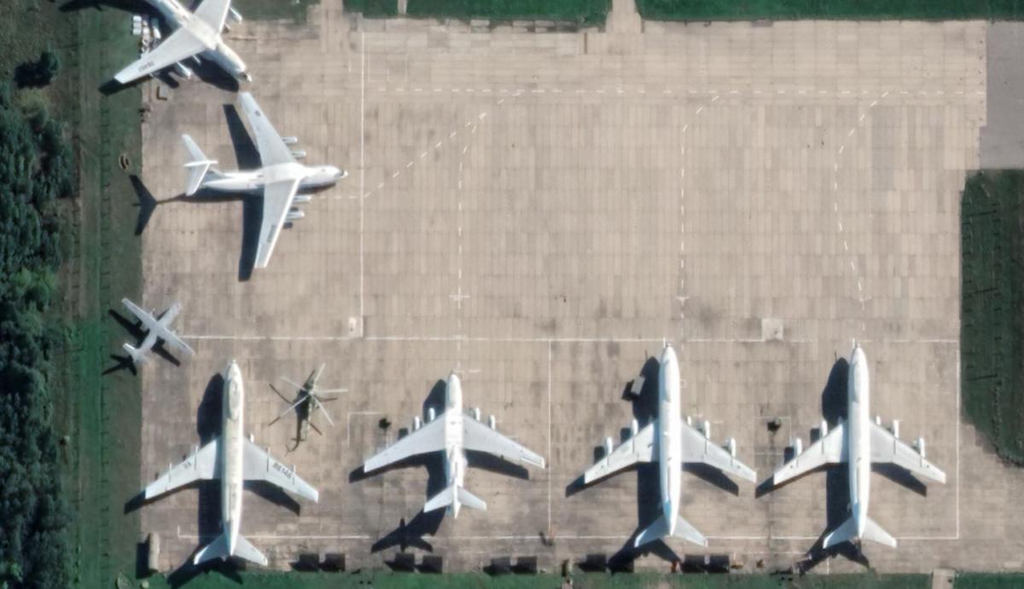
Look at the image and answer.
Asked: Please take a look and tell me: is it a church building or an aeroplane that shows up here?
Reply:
aeroplane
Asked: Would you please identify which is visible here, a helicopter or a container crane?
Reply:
helicopter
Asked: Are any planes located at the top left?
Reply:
Yes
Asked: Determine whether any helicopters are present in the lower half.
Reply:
Yes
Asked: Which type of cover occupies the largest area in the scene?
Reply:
paved ground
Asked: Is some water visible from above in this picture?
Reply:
No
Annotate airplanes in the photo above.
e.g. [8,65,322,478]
[585,334,757,548]
[368,369,544,517]
[123,297,197,366]
[115,0,250,82]
[145,359,318,565]
[180,90,347,266]
[773,335,946,549]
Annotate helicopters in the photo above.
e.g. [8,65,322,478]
[279,361,347,438]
